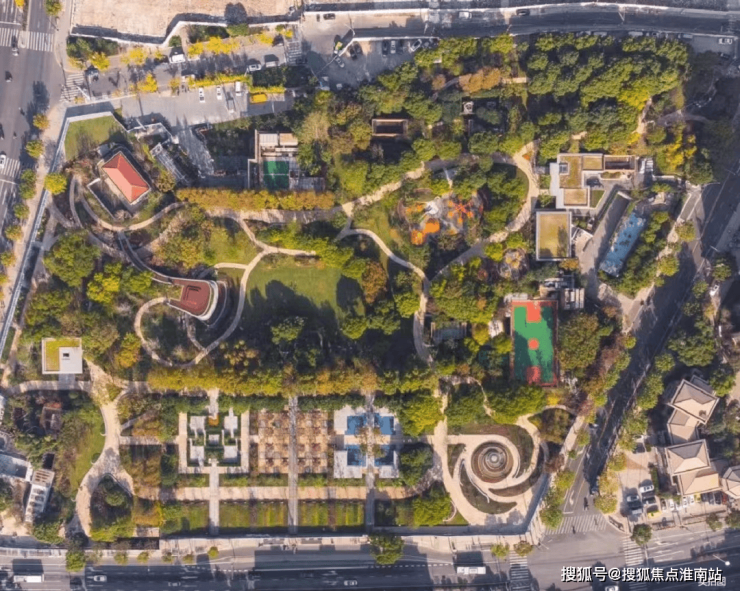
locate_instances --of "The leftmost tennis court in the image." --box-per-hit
[262,160,289,191]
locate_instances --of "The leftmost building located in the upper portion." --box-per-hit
[98,152,154,213]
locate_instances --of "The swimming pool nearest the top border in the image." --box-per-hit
[598,210,648,277]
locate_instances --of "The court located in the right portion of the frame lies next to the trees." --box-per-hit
[512,301,558,387]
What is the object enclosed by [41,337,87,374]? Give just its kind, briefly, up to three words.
house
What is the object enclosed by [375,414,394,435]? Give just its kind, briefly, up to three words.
swimming pool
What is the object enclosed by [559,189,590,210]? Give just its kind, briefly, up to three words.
house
